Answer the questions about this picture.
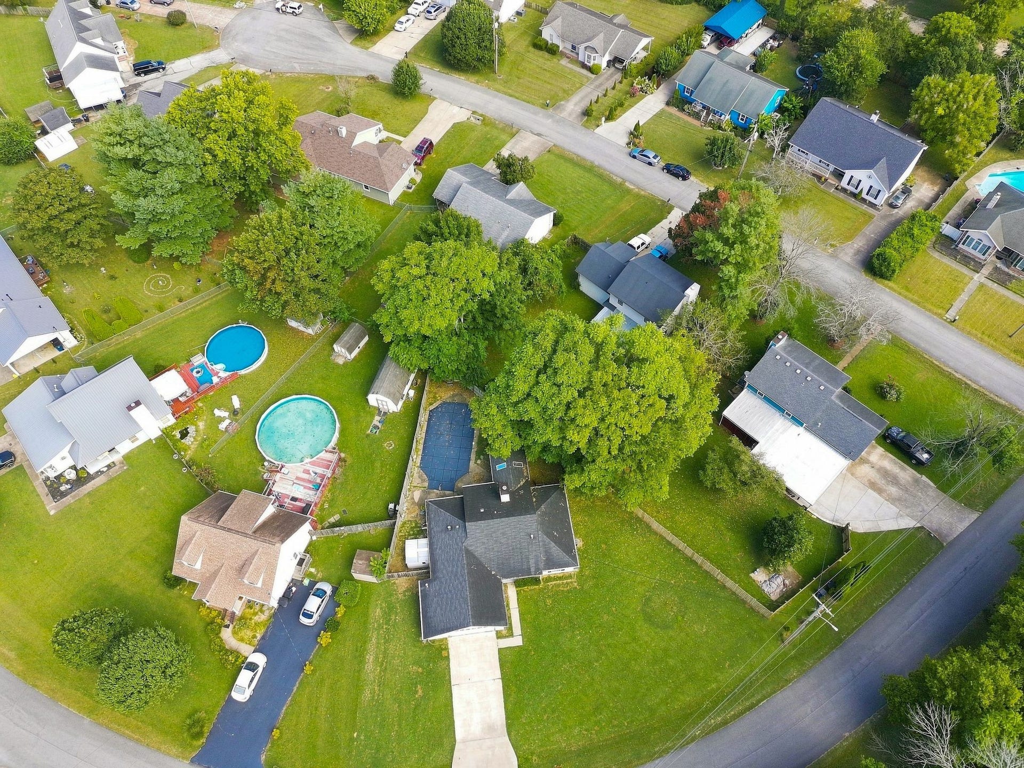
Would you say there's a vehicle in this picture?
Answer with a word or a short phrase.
Yes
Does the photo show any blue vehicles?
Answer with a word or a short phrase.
Yes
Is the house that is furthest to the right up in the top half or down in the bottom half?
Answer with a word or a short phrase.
top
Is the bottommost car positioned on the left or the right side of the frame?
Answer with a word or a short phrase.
left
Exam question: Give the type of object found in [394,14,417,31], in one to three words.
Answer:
car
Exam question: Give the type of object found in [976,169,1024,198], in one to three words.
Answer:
swimming pool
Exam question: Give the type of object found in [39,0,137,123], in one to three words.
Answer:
house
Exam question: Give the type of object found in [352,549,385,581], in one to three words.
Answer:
shed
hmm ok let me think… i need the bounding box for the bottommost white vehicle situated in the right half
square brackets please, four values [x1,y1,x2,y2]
[627,230,656,249]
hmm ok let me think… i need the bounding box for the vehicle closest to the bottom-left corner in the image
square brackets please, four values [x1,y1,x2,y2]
[227,652,268,703]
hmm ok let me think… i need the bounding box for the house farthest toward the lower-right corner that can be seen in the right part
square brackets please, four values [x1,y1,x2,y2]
[717,329,890,511]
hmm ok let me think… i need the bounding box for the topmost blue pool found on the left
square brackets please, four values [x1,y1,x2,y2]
[204,323,270,378]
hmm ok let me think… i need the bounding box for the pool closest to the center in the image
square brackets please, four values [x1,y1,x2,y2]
[418,400,477,493]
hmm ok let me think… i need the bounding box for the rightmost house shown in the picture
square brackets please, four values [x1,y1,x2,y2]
[937,180,1024,276]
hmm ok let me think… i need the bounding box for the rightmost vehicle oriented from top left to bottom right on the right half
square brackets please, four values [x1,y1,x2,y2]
[884,425,939,467]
